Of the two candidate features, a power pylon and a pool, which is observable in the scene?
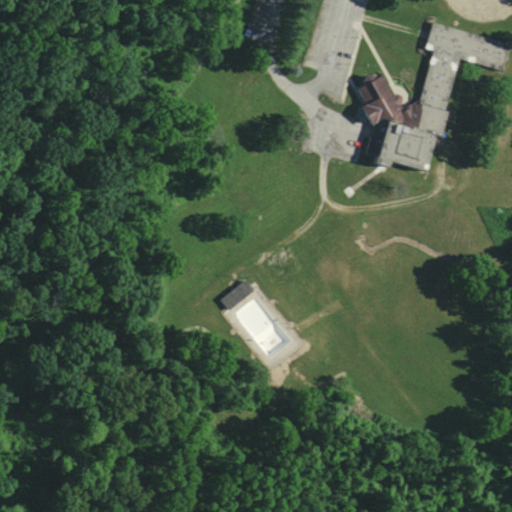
pool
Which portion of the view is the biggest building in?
top right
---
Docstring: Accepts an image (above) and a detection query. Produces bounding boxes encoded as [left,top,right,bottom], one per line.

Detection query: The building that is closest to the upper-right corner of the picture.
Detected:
[360,22,508,170]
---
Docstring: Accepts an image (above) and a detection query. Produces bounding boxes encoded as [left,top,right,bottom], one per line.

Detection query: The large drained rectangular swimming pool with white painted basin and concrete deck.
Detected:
[222,284,307,370]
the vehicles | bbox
[251,34,260,40]
[340,52,352,58]
[246,28,252,38]
[347,140,362,146]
